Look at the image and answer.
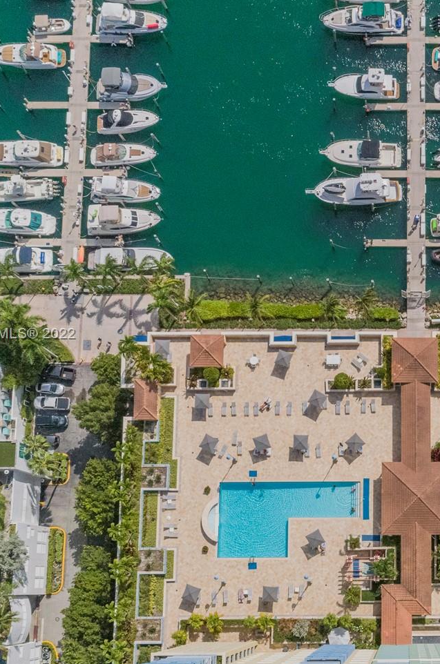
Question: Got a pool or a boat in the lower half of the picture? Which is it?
pool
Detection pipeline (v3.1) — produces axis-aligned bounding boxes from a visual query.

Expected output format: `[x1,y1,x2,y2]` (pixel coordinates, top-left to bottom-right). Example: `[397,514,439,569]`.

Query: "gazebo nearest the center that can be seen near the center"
[189,334,225,368]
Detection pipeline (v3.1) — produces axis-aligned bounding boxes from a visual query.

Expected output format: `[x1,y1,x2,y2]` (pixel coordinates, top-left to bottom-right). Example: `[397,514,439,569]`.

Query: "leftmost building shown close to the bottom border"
[8,472,57,664]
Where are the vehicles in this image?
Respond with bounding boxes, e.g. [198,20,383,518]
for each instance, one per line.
[37,433,67,447]
[39,382,69,396]
[37,416,68,430]
[36,396,70,410]
[45,367,77,382]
